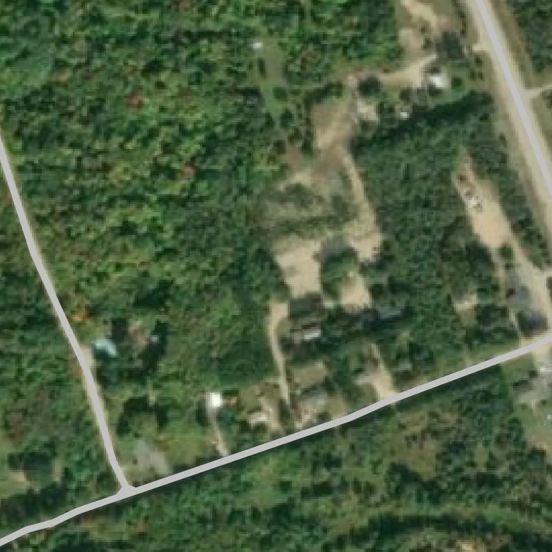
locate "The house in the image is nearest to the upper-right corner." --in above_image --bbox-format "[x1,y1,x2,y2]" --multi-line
[439,29,461,56]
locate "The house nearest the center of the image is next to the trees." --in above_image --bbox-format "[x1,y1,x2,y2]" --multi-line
[292,329,320,342]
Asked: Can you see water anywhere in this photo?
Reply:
No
